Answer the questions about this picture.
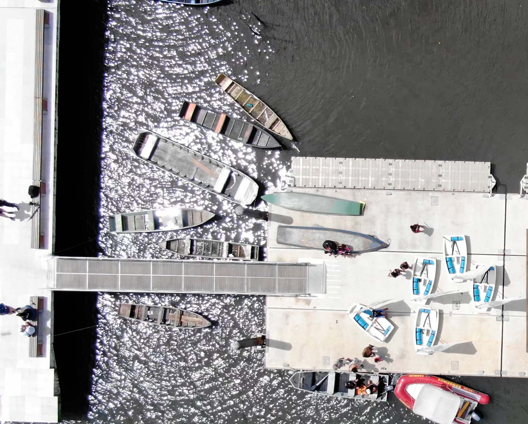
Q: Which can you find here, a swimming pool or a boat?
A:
boat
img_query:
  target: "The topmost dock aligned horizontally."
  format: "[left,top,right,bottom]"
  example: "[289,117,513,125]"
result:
[281,156,496,197]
